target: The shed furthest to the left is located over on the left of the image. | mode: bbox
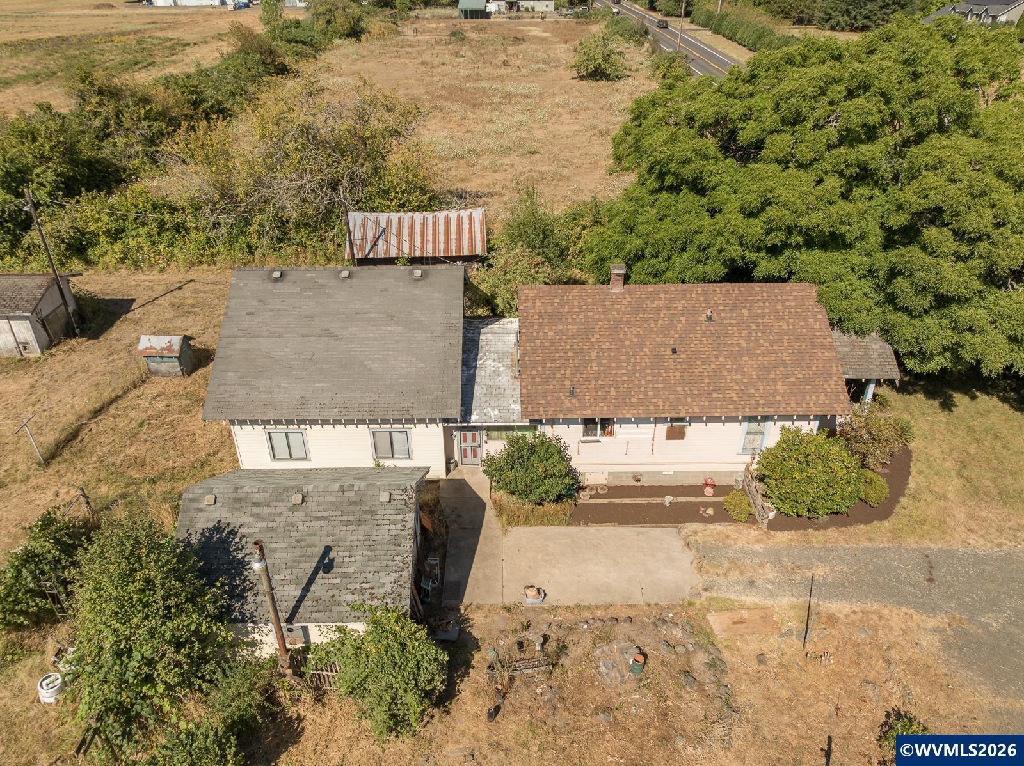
[0,273,88,354]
